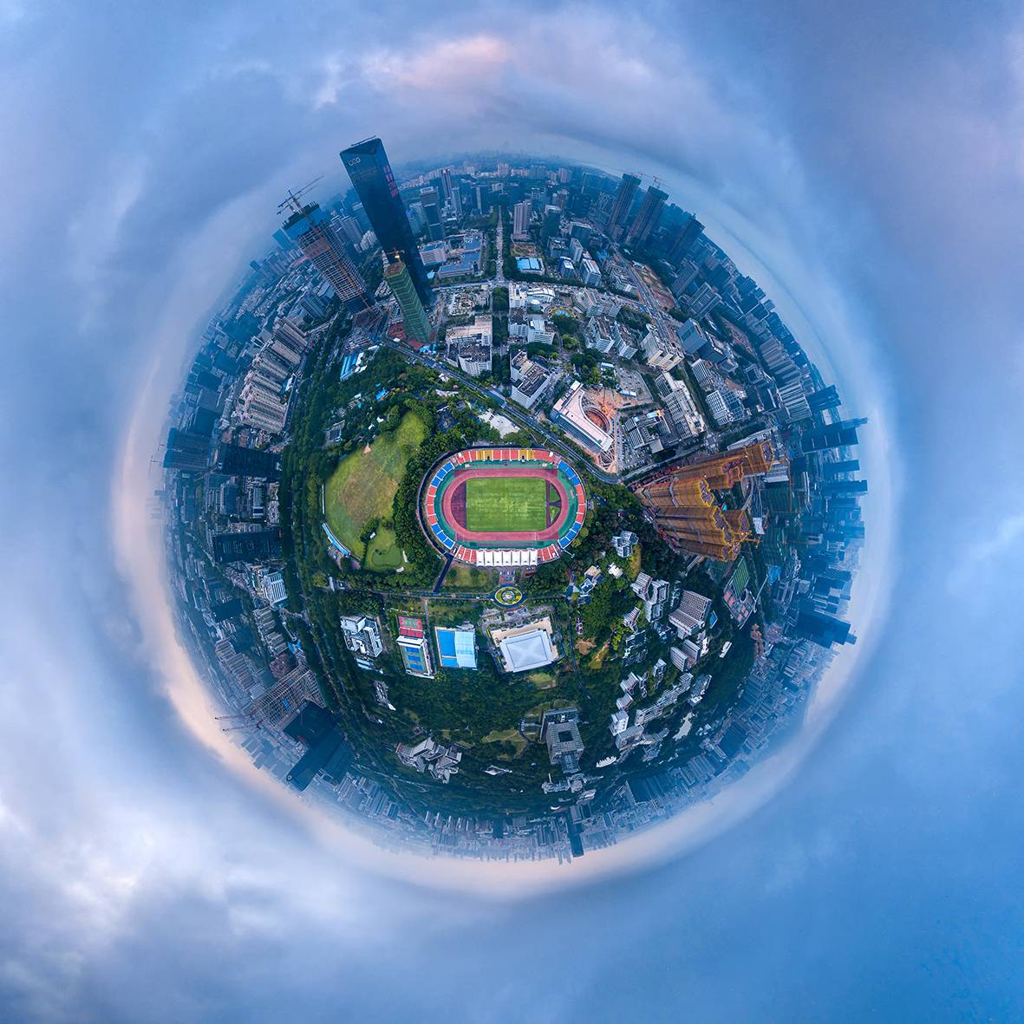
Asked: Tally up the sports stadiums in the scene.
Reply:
1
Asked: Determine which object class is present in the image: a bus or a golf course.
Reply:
golf course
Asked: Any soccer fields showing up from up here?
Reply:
Yes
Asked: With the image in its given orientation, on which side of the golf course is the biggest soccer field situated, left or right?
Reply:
on its right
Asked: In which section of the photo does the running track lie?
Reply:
center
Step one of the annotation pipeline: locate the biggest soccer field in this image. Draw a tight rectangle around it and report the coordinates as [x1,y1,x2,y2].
[468,479,545,531]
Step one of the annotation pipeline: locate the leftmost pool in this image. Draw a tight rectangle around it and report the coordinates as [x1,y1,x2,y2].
[435,627,460,668]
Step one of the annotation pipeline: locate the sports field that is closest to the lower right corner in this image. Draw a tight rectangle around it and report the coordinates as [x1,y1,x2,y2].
[722,563,761,629]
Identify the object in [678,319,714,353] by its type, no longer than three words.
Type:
building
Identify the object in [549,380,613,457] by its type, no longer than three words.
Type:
building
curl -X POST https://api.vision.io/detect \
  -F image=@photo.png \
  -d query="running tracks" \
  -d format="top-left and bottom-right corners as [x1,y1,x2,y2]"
[446,470,567,539]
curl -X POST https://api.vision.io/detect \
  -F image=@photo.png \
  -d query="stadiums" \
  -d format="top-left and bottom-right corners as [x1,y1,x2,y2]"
[427,447,586,567]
